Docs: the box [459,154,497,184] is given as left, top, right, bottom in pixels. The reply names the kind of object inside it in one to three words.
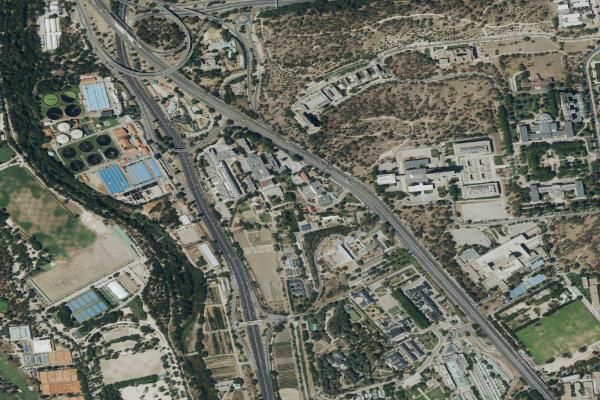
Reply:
building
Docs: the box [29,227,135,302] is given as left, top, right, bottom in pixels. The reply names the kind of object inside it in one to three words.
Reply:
sports field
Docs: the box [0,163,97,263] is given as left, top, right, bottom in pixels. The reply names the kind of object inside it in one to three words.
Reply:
soccer field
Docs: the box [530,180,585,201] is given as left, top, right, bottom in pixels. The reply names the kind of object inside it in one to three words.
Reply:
building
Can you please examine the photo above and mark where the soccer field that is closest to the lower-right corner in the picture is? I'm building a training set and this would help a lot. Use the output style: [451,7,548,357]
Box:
[515,299,600,364]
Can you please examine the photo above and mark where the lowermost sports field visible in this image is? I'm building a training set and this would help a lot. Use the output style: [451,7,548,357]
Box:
[101,349,164,384]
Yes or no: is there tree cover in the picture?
Yes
